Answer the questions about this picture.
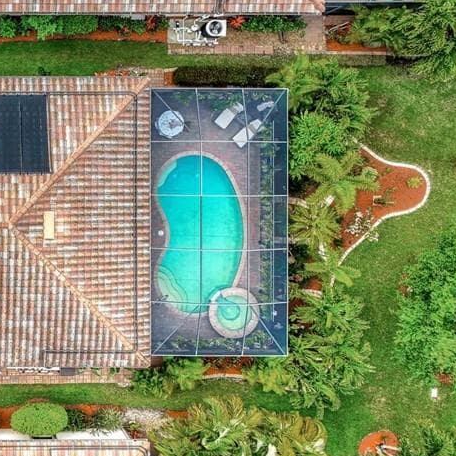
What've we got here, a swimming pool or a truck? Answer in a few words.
swimming pool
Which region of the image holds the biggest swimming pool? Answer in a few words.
center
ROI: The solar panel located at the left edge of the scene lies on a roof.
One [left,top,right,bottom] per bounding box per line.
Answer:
[0,92,53,175]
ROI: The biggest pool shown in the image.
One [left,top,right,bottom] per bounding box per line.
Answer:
[152,149,250,319]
